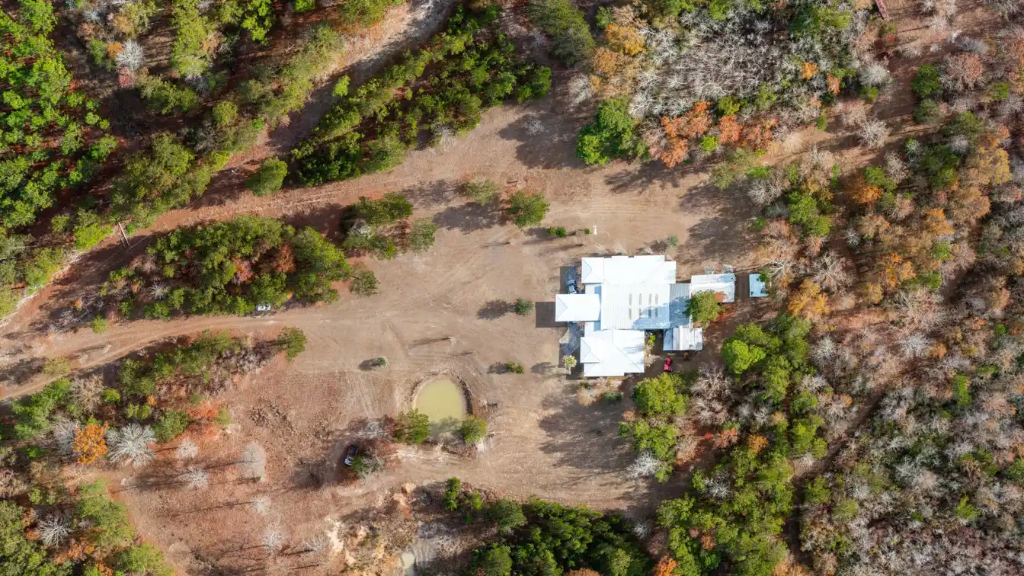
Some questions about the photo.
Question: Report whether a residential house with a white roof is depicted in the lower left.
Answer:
No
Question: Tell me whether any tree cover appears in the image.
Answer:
Yes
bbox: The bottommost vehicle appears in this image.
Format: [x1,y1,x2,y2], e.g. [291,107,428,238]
[344,443,358,466]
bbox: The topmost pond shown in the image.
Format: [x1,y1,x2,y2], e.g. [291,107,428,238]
[416,380,467,444]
